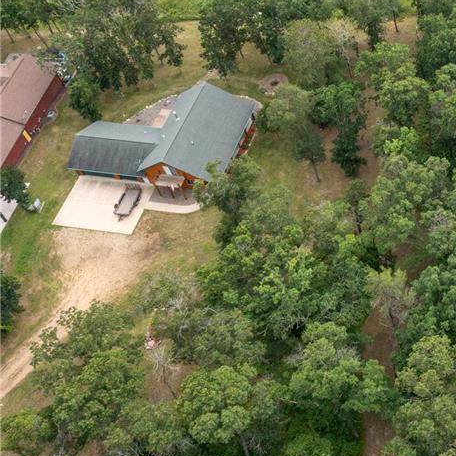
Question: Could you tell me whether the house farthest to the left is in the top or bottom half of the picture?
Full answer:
Seen from above, the house farthest to the left lies in the top half of the view.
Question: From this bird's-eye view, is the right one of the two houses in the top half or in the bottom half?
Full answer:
You can find the right one of the two houses in the top half.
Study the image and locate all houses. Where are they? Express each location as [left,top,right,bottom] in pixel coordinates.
[64,83,258,199]
[0,58,57,173]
